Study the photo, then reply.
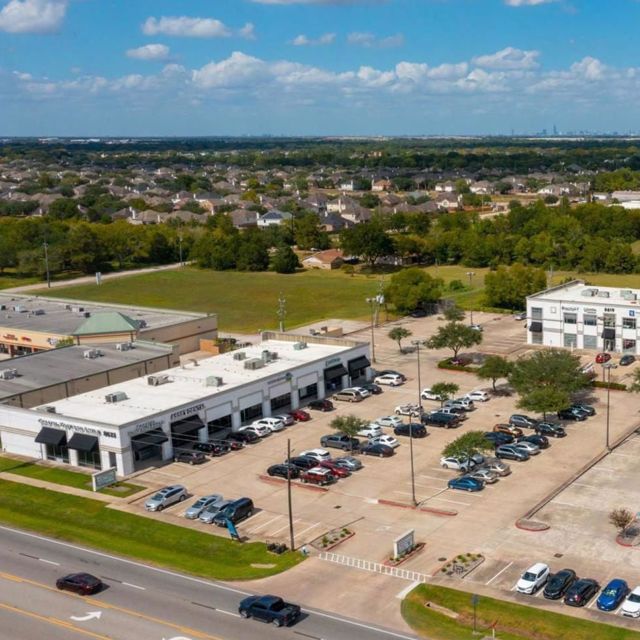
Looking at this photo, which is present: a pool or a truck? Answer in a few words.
truck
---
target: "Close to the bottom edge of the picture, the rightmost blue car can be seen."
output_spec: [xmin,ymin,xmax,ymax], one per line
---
[592,578,627,611]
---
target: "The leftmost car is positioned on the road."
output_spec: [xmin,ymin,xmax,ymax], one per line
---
[55,569,104,595]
